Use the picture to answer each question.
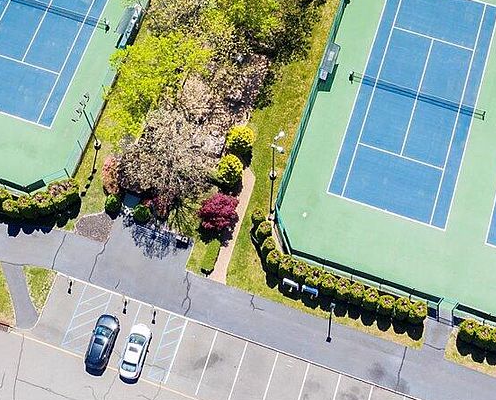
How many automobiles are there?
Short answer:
two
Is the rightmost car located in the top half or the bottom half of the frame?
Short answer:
bottom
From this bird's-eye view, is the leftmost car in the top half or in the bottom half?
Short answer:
bottom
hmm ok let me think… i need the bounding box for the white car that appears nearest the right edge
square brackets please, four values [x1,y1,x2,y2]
[118,323,153,384]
